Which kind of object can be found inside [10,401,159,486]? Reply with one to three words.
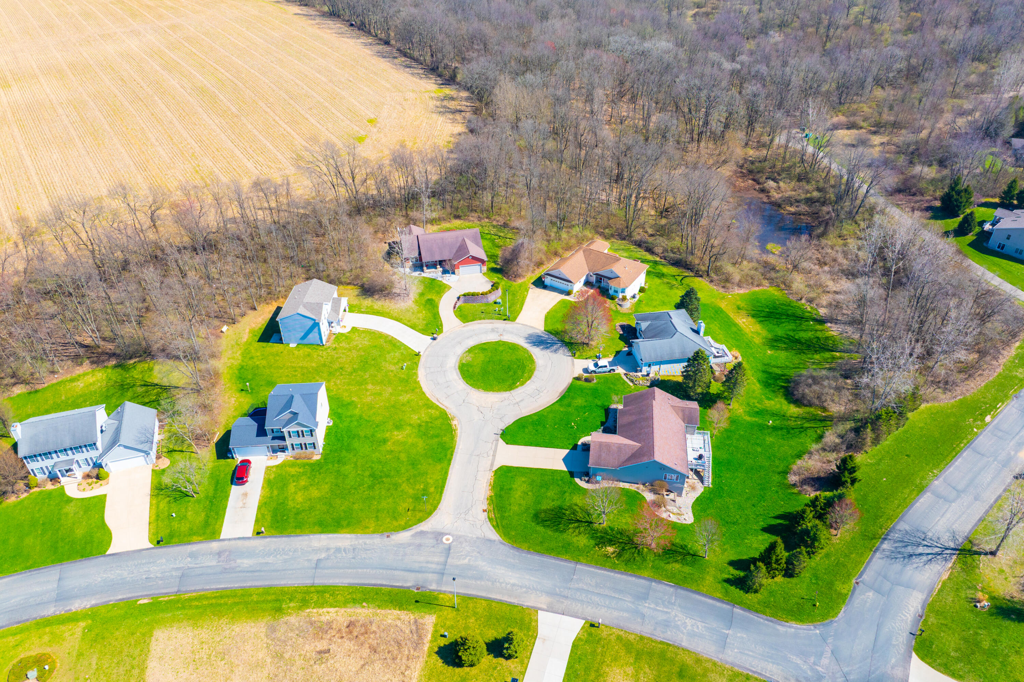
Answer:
house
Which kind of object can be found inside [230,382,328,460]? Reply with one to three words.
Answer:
house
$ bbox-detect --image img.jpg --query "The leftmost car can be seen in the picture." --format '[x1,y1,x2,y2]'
[233,459,250,484]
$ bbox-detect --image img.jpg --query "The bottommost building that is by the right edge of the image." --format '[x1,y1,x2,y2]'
[978,207,1024,260]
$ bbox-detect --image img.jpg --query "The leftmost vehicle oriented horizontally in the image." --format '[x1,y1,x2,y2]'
[586,359,620,374]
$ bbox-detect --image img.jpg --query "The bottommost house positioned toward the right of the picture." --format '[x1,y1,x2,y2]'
[589,387,712,495]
